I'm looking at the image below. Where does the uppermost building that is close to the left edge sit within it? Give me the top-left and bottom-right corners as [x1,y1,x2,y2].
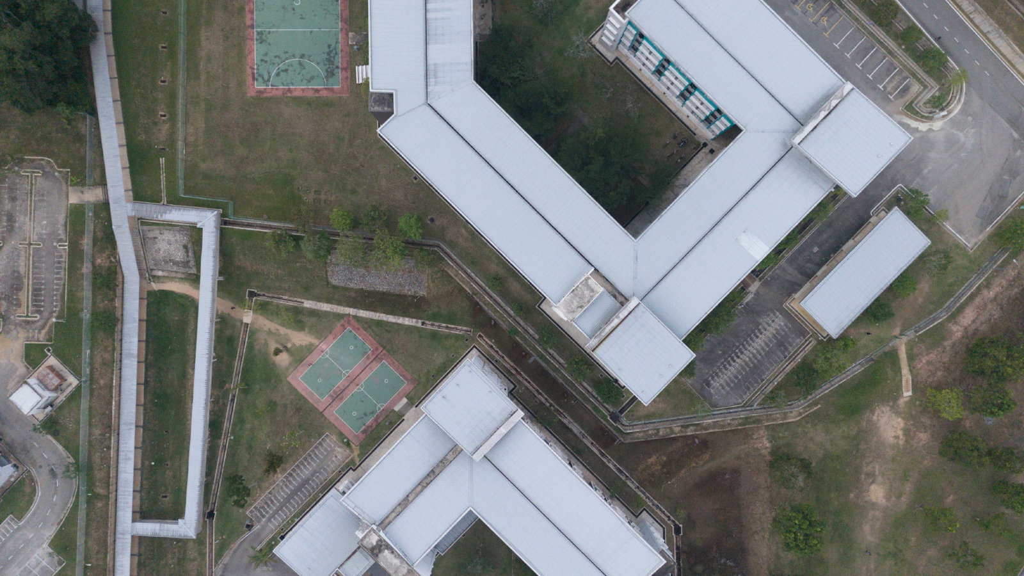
[9,378,68,416]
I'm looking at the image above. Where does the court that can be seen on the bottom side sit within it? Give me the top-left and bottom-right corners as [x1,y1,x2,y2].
[287,315,418,446]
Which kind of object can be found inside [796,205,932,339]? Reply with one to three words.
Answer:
shed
